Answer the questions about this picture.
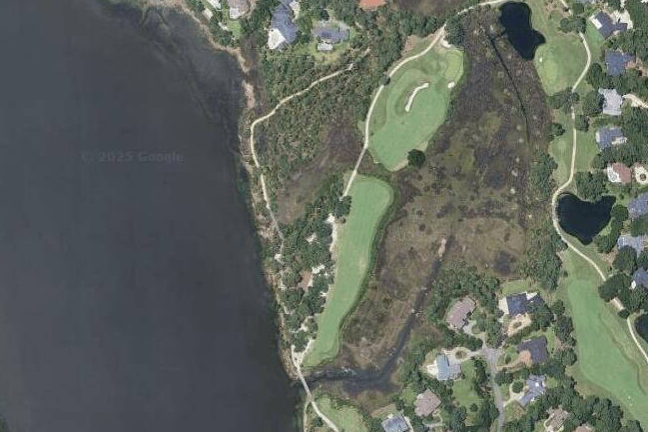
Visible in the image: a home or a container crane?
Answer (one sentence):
I can see a home in this picture.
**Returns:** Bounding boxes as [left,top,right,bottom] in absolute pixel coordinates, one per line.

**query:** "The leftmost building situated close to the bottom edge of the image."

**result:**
[383,413,408,432]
